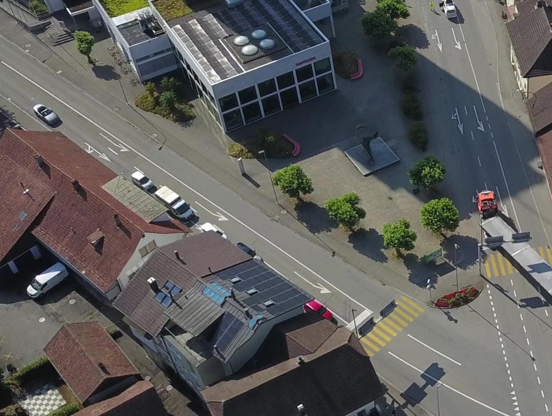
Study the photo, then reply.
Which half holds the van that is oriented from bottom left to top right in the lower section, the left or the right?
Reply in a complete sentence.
It is on the left.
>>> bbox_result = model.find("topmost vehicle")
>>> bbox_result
[437,0,455,18]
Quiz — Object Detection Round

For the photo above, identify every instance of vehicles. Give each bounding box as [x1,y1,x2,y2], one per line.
[437,0,455,18]
[151,181,194,220]
[32,105,60,125]
[232,238,258,256]
[196,219,229,239]
[473,183,498,230]
[25,260,69,295]
[129,170,156,191]
[312,299,335,319]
